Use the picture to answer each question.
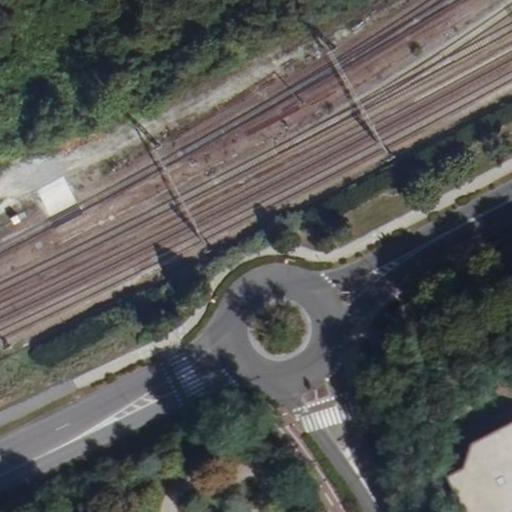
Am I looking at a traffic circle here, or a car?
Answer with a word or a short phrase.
traffic circle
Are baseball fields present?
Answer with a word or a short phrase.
No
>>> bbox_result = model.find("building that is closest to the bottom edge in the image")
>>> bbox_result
[446,419,512,512]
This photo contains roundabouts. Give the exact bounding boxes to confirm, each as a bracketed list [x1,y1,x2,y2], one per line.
[186,265,372,408]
